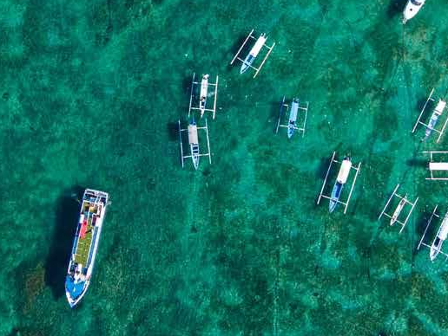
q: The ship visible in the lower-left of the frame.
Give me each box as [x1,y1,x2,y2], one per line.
[67,187,115,308]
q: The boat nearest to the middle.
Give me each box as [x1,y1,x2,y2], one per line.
[178,117,212,169]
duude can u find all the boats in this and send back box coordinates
[232,29,274,78]
[418,206,448,261]
[423,152,448,180]
[317,153,361,213]
[412,90,448,143]
[190,72,219,118]
[402,0,425,24]
[380,185,418,233]
[178,117,212,169]
[277,95,309,139]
